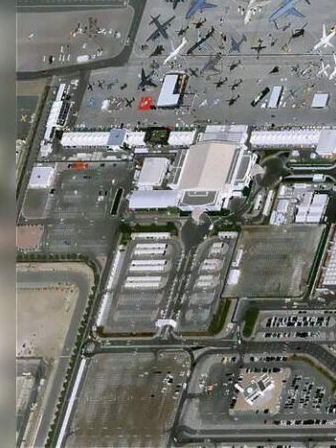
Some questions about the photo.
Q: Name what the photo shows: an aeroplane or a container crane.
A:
aeroplane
